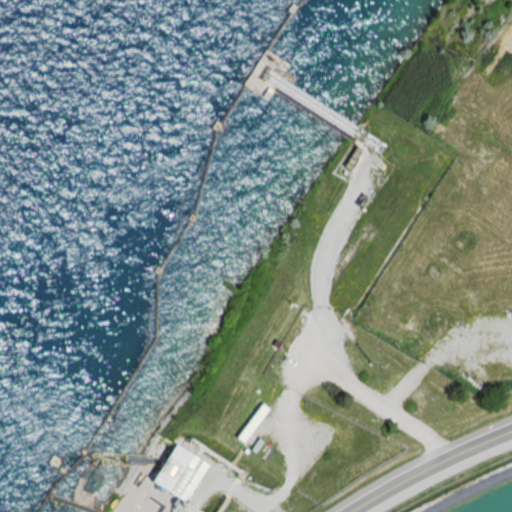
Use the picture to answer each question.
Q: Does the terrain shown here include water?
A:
Yes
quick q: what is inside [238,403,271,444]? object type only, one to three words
building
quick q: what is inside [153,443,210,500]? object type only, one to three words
building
